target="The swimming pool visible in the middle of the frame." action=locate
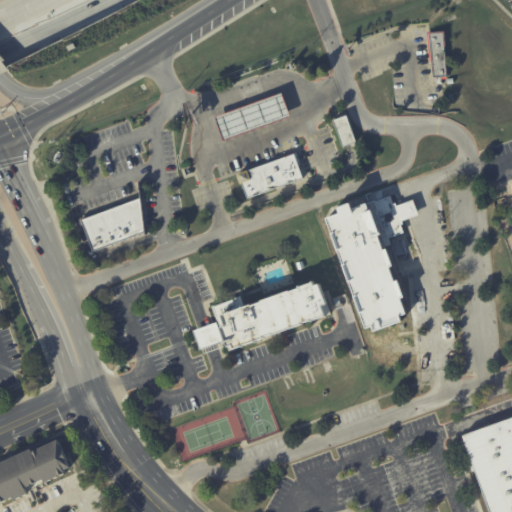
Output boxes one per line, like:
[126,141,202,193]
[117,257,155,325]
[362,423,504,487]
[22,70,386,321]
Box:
[258,259,294,294]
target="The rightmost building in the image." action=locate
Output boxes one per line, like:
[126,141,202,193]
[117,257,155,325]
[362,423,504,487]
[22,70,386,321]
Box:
[460,418,512,512]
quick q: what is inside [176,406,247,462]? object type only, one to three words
tennis court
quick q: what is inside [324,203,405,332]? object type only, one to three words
building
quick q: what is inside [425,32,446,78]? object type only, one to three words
building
